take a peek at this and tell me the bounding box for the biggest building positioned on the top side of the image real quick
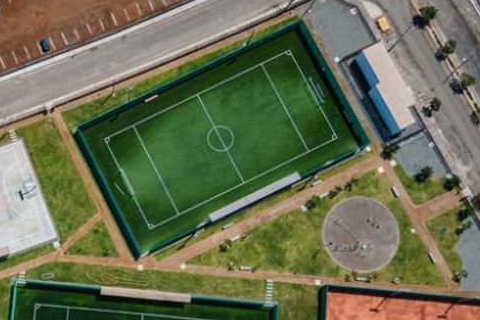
[351,40,417,138]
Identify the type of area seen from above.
sports ground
